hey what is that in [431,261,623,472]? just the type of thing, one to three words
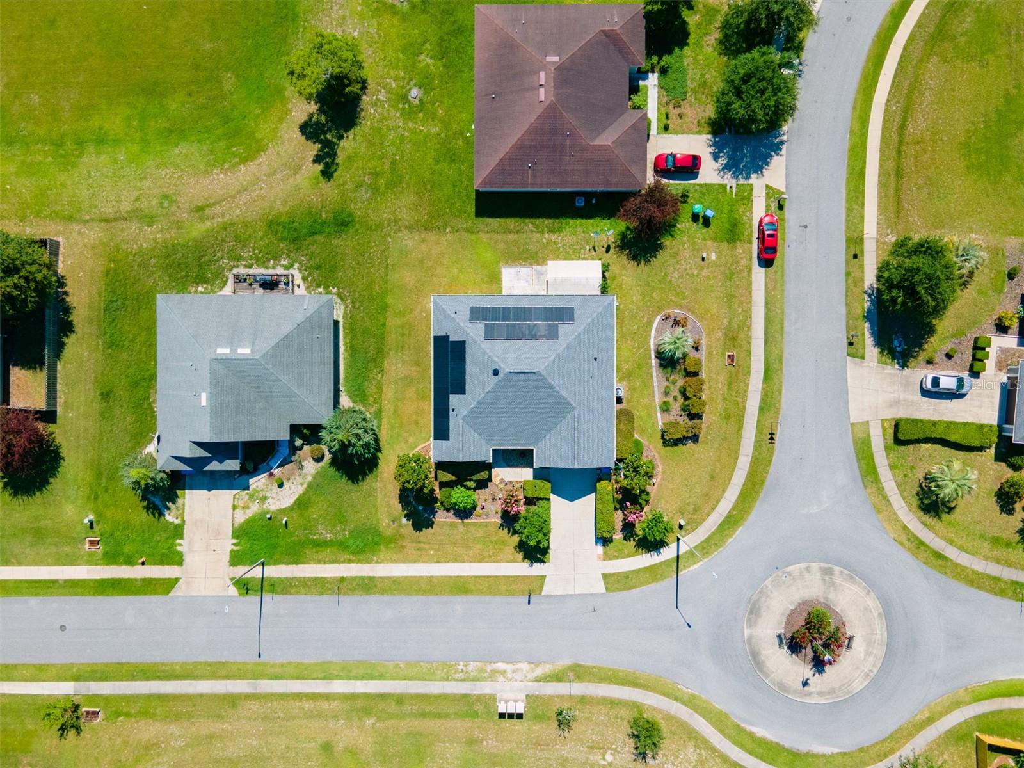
house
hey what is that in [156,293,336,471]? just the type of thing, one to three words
house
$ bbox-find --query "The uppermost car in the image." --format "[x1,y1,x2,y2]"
[654,149,701,173]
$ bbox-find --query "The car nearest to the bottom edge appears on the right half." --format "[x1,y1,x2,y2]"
[921,373,971,395]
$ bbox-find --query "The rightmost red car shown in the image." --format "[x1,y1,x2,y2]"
[756,213,781,260]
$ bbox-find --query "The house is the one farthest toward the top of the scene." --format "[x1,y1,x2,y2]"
[474,4,647,192]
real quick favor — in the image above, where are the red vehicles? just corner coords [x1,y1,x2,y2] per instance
[756,213,781,260]
[654,149,701,173]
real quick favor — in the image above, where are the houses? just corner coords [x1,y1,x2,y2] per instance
[474,4,647,192]
[156,293,336,471]
[0,327,10,406]
[431,261,623,472]
[1001,358,1024,444]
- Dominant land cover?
grass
